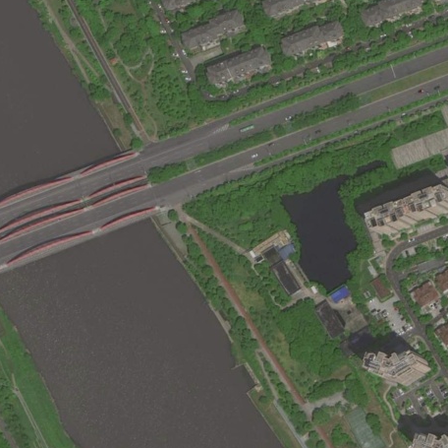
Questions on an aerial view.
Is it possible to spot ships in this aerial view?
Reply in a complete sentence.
No, there's no ship here.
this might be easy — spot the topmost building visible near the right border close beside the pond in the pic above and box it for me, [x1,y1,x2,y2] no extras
[364,185,448,237]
